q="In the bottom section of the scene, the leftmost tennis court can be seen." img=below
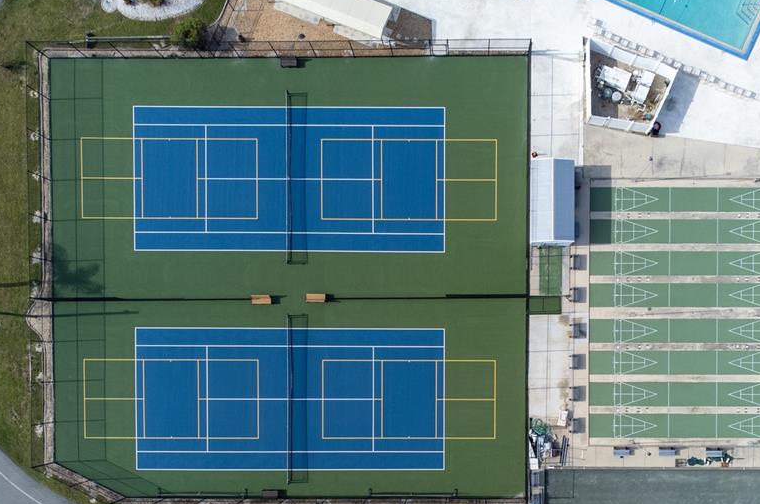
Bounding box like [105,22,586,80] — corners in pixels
[52,297,526,500]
